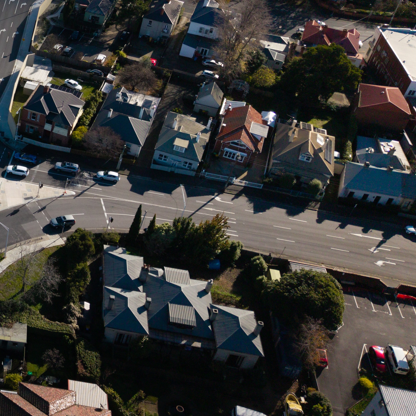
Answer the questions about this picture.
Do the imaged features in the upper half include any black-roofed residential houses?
Yes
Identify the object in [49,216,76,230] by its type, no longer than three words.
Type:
vehicle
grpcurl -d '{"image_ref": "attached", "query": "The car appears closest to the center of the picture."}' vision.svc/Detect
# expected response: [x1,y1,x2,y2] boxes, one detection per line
[97,172,120,185]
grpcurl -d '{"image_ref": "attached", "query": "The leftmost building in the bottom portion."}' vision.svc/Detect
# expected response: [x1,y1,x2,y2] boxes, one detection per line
[0,319,28,354]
